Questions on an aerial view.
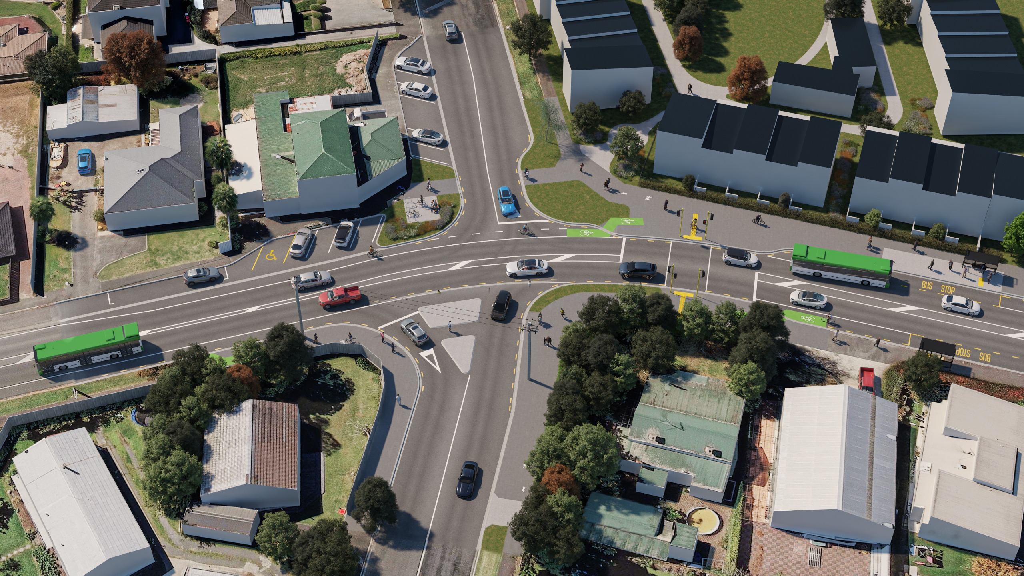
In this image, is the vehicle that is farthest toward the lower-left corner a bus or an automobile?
bus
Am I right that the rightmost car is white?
Yes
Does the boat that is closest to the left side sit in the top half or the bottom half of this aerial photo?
top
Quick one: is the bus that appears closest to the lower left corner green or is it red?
green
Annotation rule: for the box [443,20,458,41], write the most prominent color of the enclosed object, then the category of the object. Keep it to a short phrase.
gray car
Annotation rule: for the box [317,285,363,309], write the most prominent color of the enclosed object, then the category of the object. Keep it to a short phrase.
red truck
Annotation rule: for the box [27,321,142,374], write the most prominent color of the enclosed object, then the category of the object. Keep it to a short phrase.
green bus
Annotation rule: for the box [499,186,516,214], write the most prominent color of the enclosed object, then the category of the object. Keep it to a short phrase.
blue car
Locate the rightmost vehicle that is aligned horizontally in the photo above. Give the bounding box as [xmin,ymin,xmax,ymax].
[940,295,982,316]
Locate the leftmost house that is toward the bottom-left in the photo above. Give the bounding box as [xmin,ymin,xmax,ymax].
[11,426,154,576]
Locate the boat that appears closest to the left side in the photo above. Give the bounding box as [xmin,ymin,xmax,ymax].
[47,137,68,170]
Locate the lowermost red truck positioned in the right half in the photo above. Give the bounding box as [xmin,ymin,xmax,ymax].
[857,365,878,394]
